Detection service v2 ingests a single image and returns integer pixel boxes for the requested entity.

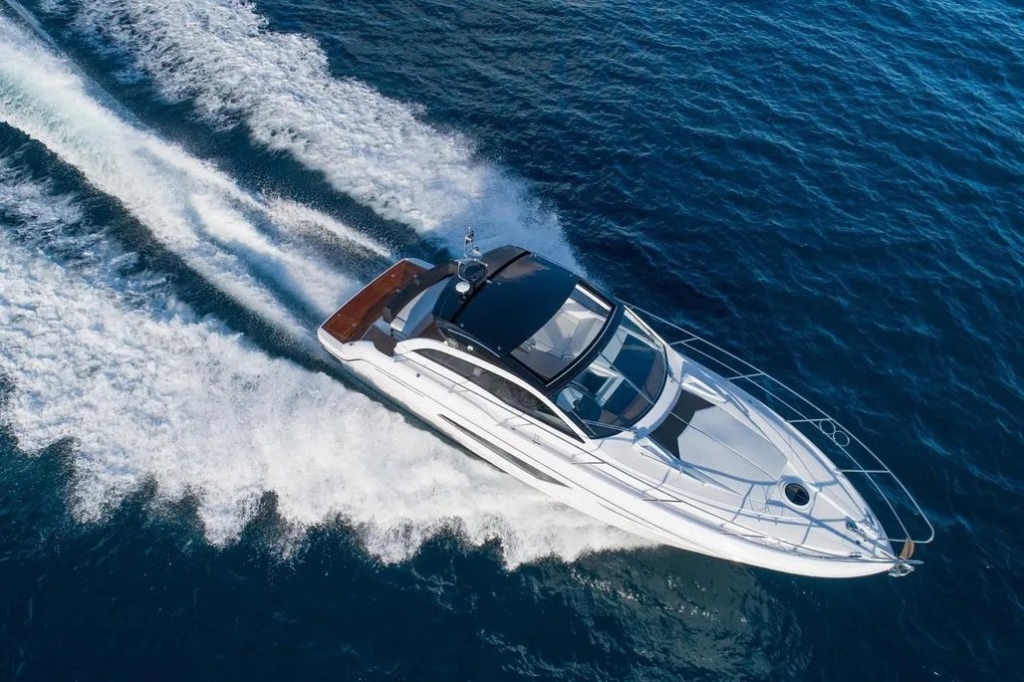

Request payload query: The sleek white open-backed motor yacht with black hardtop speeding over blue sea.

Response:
[318,222,935,575]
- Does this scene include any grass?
No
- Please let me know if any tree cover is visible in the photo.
No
